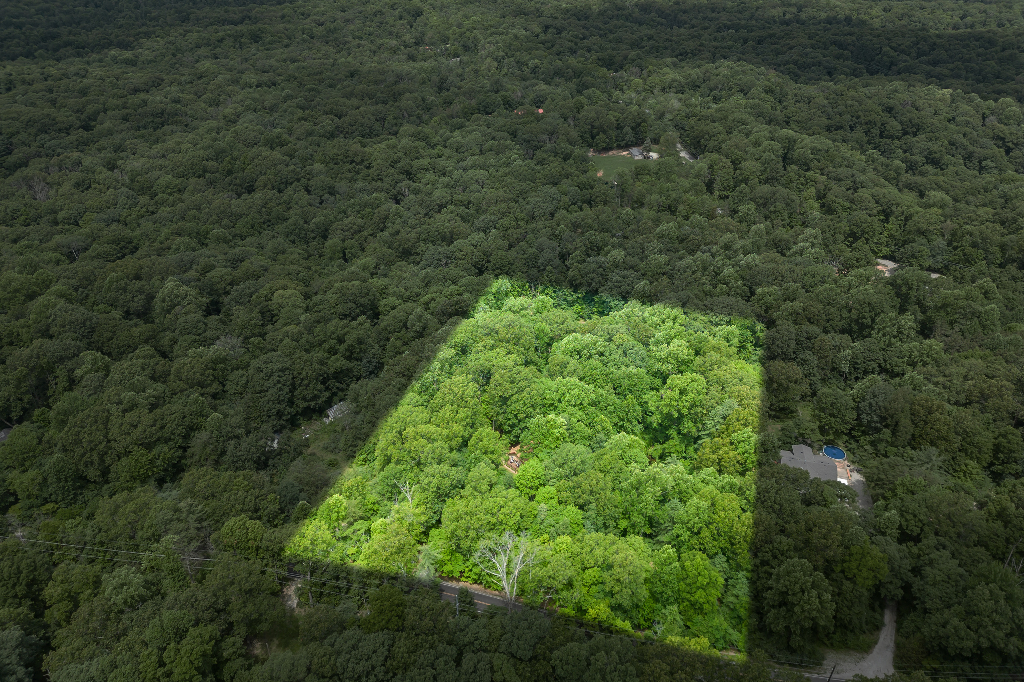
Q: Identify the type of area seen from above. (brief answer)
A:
forest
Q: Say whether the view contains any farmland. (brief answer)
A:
No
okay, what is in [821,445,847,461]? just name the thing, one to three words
swimming pool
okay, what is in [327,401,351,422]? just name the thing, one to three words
shed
